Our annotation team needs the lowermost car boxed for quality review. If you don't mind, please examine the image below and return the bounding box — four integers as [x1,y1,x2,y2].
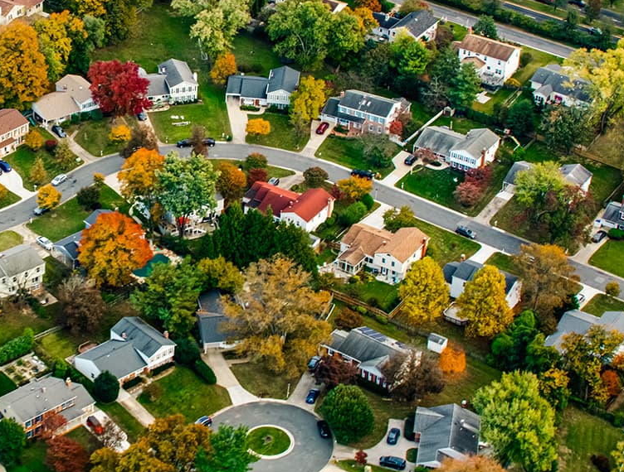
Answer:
[377,452,409,472]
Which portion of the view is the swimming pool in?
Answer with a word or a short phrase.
left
